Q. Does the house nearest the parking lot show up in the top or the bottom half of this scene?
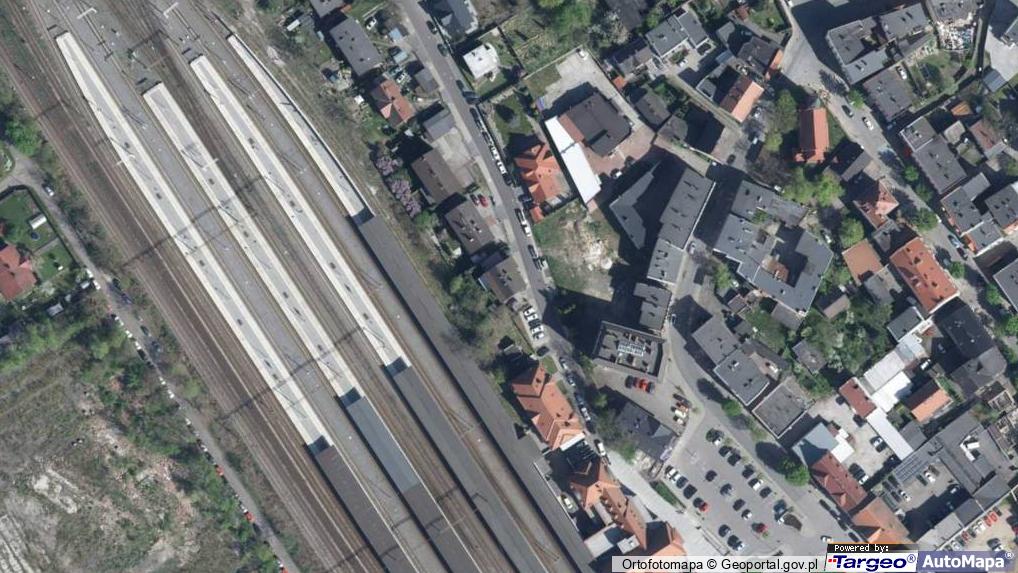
bottom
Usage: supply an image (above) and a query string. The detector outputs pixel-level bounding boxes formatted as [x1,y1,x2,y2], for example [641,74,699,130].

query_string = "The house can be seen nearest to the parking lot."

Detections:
[616,399,681,464]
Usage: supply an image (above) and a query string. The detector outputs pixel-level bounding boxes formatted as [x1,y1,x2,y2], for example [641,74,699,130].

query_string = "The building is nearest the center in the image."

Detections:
[480,258,528,303]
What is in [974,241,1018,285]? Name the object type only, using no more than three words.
shed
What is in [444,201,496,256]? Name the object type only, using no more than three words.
building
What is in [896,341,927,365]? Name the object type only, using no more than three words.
greenhouse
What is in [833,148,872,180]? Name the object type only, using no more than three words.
house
